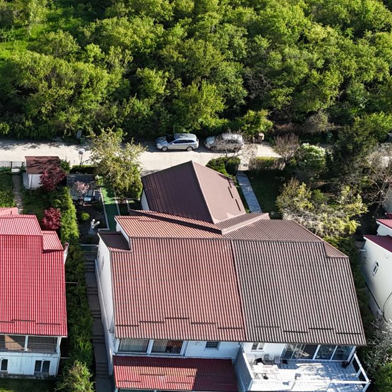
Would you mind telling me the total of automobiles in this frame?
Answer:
2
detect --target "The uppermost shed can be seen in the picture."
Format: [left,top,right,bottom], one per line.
[27,149,60,188]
